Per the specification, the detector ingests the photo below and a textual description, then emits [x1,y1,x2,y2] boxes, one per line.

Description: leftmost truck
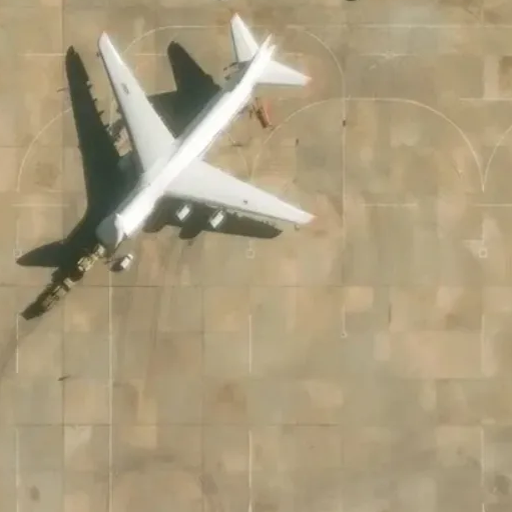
[35,274,74,314]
